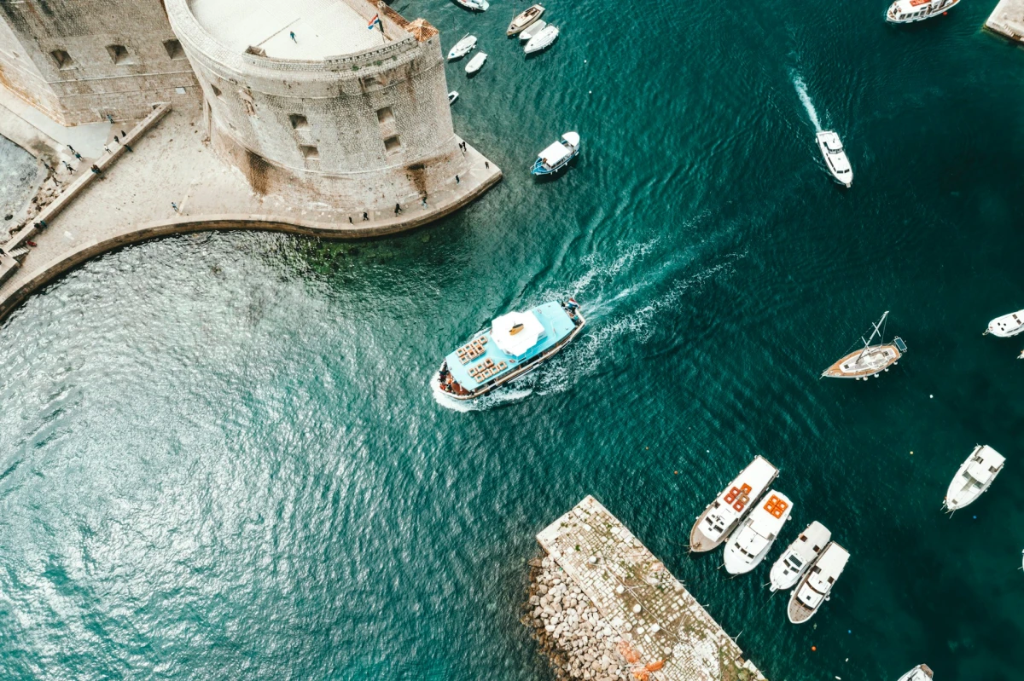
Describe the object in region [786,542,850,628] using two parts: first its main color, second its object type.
white boat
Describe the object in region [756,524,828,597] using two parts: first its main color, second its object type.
white boat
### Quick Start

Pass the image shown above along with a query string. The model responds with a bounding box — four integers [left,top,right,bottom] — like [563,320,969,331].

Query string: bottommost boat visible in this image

[893,658,934,681]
